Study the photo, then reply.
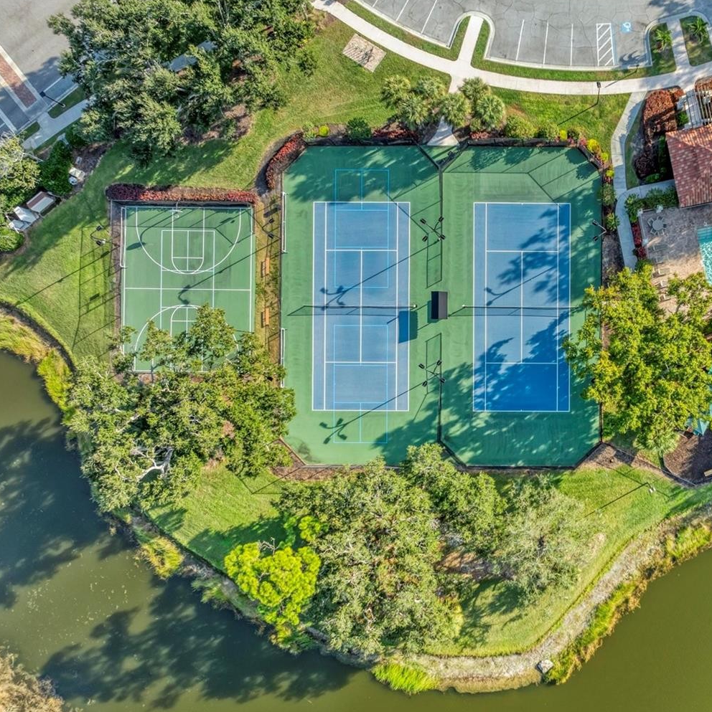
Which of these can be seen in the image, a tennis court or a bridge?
tennis court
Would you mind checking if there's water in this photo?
Yes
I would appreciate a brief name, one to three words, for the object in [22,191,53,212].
shed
